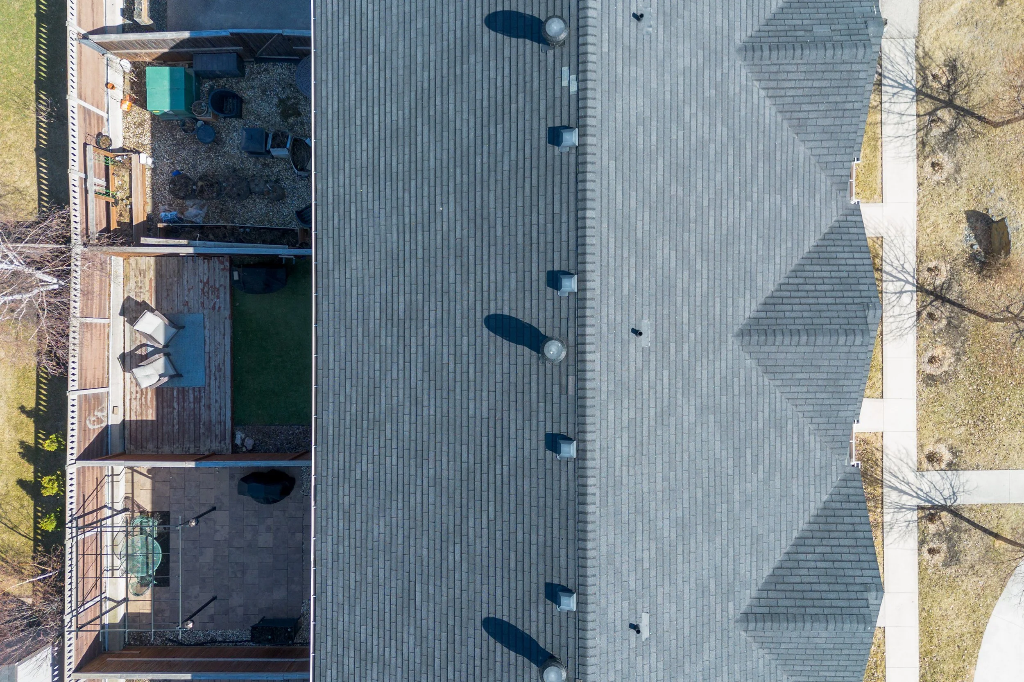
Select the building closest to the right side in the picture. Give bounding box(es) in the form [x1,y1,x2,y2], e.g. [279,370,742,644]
[311,0,882,682]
